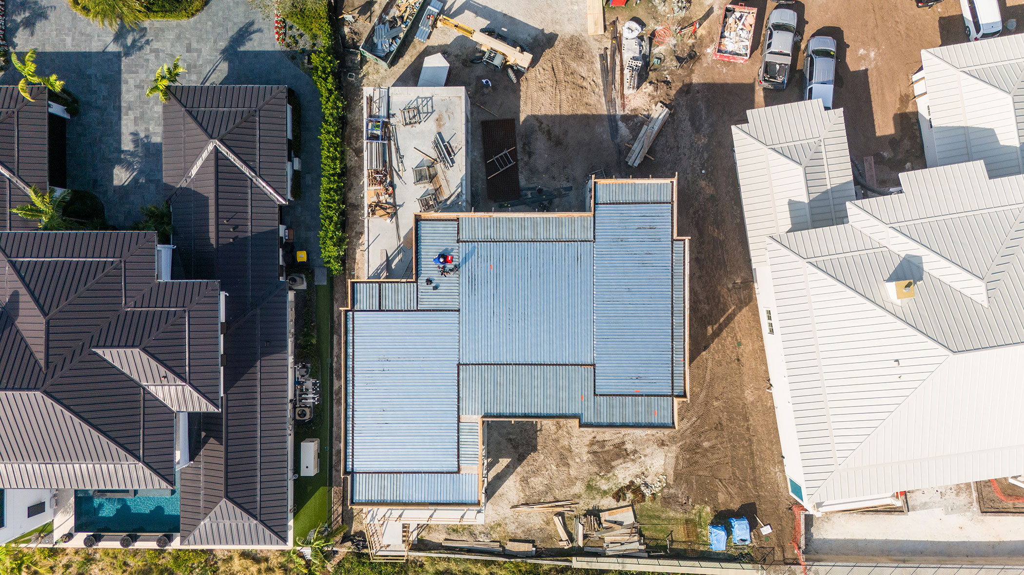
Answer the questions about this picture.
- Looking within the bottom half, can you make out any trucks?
No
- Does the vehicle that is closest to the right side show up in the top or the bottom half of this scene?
top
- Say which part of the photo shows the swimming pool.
bottom left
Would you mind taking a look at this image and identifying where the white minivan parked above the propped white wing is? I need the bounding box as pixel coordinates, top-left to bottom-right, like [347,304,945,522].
[956,0,1005,42]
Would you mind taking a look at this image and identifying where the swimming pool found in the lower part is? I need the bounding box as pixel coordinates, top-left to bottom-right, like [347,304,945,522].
[73,470,186,533]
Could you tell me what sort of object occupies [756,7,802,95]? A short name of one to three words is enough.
truck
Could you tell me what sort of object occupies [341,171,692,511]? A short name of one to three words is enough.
house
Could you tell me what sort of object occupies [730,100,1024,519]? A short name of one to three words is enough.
house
